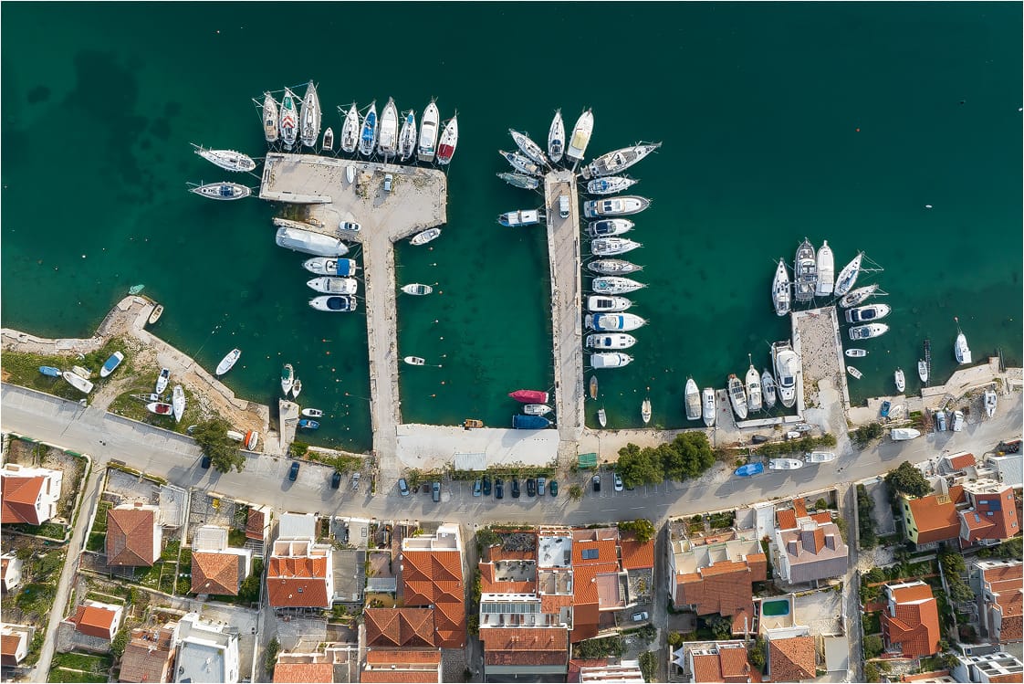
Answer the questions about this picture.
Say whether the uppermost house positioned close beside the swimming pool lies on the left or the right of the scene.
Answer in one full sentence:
It is on the right.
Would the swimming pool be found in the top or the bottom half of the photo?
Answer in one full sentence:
You can find the swimming pool in the bottom half.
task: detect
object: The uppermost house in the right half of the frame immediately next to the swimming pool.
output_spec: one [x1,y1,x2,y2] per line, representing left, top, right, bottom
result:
[774,497,847,584]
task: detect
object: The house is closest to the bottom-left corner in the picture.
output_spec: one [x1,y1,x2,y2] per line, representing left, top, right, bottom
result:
[0,620,35,664]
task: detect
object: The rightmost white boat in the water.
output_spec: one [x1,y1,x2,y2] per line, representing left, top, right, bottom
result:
[956,334,975,364]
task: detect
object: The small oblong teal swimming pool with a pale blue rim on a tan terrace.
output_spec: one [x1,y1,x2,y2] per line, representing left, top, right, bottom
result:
[759,592,792,632]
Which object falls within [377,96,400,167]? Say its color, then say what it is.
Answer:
white boat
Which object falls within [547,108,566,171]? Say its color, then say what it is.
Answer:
white boat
